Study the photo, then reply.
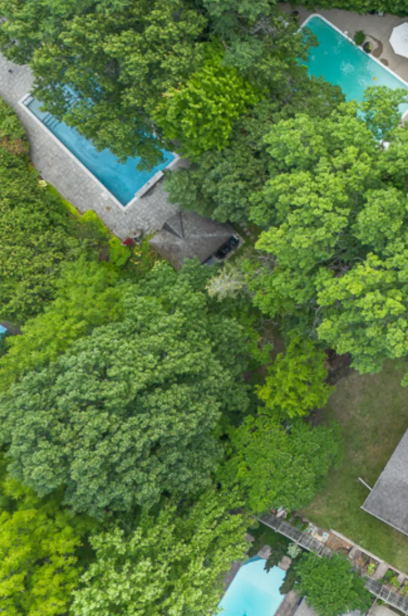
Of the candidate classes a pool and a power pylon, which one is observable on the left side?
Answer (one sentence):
The feature located on the left side is a pool.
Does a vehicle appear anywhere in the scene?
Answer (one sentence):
No, there isn't any vehicle down there.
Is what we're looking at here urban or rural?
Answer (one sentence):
The land in this view is best described as rural.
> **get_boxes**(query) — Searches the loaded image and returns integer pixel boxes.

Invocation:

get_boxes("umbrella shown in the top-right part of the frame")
[387,19,408,62]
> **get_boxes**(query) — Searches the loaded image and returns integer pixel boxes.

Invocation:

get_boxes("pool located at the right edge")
[273,9,408,110]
